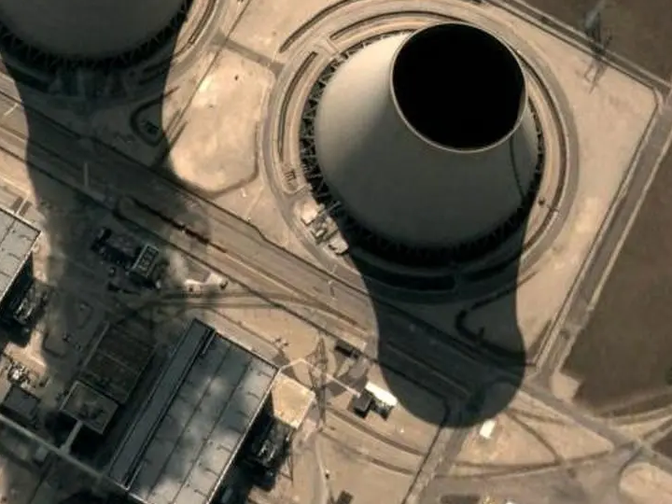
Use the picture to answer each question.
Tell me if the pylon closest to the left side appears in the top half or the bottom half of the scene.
bottom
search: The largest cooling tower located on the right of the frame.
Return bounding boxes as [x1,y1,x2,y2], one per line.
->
[299,21,544,268]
